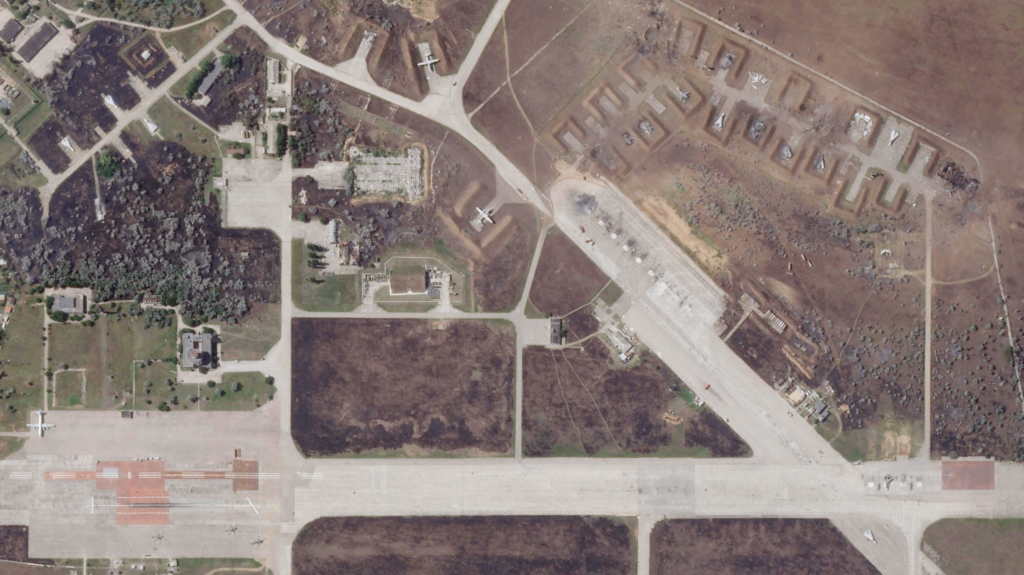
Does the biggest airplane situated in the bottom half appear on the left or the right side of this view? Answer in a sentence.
It is on the left.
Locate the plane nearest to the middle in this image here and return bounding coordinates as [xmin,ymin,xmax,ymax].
[475,206,494,225]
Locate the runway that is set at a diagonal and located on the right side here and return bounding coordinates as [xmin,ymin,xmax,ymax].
[621,299,849,466]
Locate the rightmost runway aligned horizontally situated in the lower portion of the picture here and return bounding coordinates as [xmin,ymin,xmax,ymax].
[284,465,994,575]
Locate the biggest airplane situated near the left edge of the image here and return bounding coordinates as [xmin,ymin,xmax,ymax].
[25,413,54,438]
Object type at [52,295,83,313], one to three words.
building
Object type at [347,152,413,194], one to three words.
building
